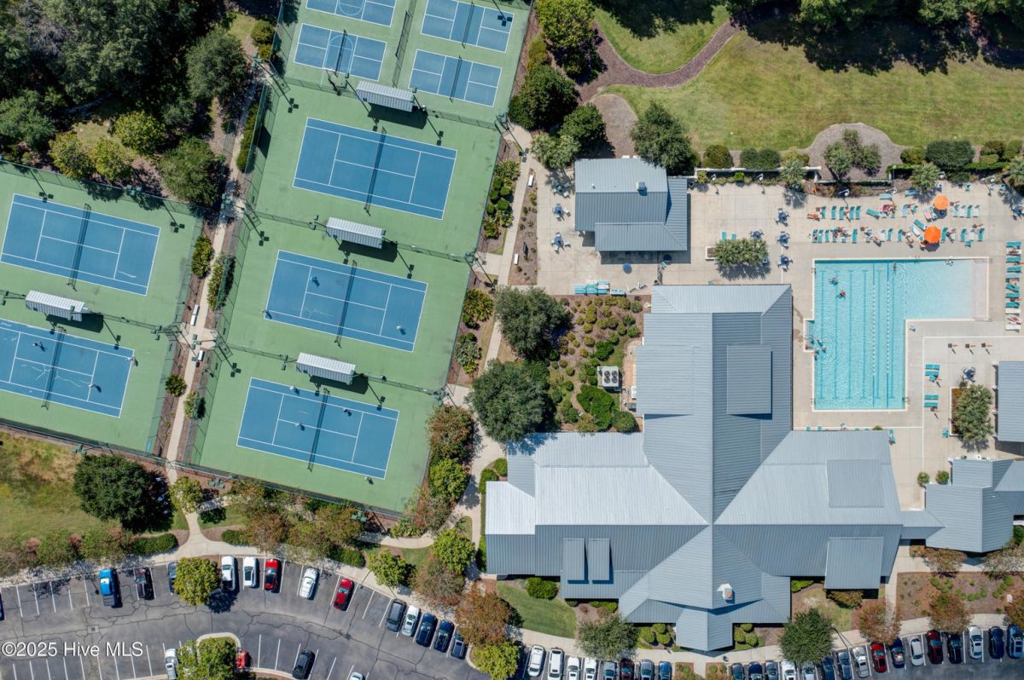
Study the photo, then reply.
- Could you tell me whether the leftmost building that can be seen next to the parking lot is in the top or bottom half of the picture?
bottom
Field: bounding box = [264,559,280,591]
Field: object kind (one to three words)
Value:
car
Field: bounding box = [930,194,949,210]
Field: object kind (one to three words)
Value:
umbrella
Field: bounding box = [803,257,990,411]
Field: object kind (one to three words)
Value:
swimming pool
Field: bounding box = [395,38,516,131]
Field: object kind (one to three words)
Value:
sports court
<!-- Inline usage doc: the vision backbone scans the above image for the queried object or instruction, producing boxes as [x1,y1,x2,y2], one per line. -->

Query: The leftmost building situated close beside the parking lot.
[486,285,903,652]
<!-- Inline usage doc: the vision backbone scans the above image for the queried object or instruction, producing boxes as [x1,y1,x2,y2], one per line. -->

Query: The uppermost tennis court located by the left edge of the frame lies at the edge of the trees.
[0,161,210,332]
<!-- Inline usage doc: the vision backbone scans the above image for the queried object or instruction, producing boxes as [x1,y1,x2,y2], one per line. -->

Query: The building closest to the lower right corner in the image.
[913,457,1024,553]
